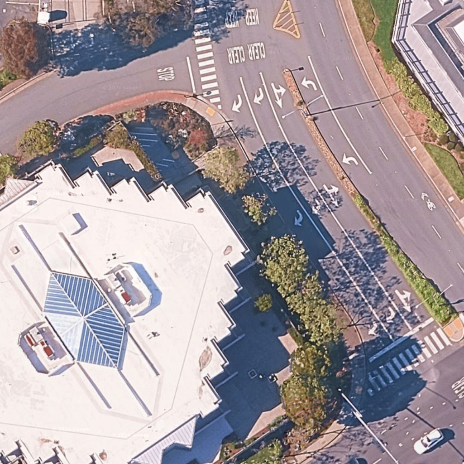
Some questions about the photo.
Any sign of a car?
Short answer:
Yes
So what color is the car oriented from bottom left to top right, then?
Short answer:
white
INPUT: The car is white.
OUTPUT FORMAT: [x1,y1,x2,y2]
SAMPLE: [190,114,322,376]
[413,428,445,455]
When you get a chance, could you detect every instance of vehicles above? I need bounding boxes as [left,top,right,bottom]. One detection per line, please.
[413,428,445,455]
[342,455,362,464]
